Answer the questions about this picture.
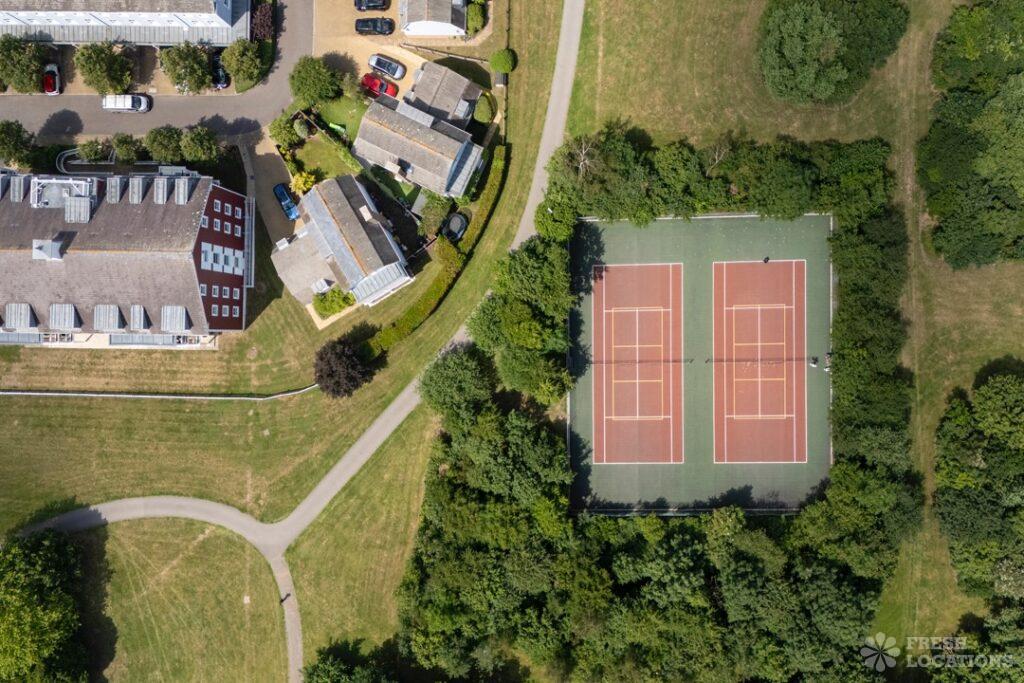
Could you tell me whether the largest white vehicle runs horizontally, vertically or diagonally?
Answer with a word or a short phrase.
horizontally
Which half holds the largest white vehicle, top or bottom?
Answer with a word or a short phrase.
top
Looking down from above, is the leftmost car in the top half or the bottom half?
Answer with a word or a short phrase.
top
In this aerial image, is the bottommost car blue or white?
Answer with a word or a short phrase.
blue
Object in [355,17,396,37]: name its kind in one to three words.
car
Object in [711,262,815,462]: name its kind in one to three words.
tennis court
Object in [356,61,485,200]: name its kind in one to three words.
house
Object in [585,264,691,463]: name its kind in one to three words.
tennis court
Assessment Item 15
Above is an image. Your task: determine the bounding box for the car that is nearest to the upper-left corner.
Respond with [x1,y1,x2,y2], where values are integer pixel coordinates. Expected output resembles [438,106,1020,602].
[42,65,62,98]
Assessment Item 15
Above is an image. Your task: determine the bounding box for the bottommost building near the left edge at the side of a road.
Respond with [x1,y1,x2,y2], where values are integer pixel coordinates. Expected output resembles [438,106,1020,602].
[0,173,254,347]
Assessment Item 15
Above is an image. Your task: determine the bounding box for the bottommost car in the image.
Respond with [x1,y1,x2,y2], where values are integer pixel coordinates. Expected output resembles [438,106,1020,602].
[274,183,301,221]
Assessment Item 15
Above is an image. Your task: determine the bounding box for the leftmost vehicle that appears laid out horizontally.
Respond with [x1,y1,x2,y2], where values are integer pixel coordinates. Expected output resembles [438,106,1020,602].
[101,93,153,114]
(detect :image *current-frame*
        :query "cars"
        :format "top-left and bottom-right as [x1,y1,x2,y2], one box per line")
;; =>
[354,0,392,14]
[42,65,62,98]
[274,183,301,221]
[368,55,406,81]
[210,54,230,92]
[355,17,396,37]
[360,73,397,100]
